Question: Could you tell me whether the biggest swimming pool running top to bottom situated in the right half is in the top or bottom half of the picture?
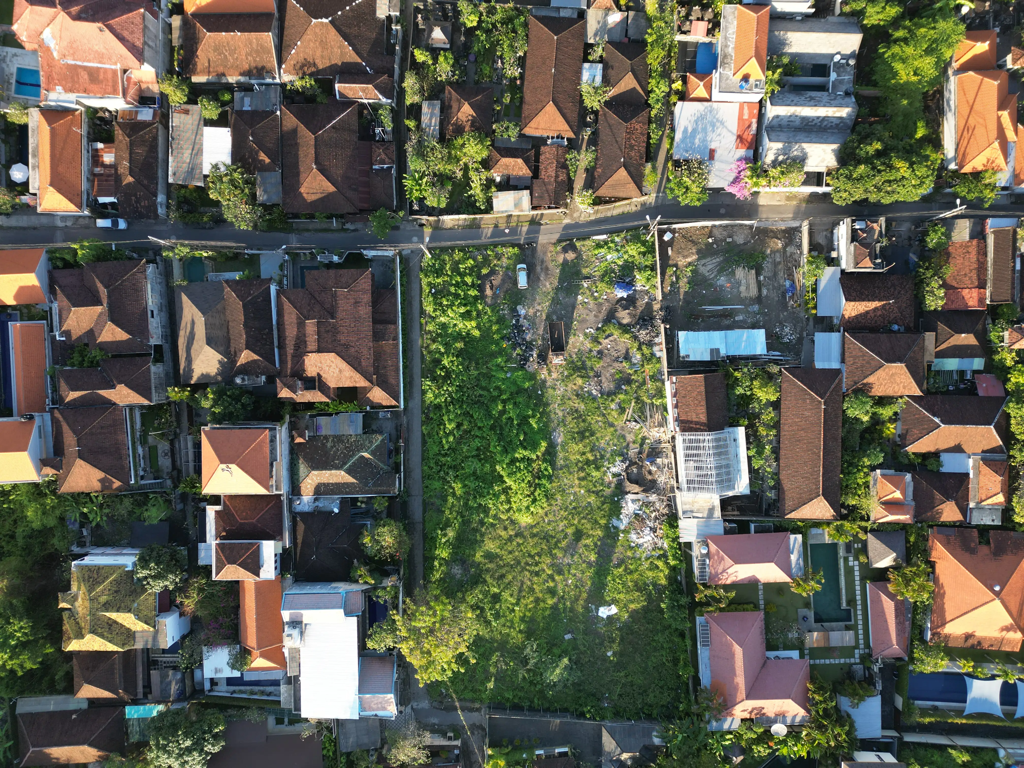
bottom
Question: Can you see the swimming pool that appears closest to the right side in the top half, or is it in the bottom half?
bottom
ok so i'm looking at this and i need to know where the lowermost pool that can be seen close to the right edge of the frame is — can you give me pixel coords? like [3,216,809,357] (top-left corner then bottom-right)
[907,671,1024,708]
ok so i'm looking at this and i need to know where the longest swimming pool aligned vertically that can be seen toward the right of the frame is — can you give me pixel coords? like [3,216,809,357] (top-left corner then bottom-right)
[808,541,854,625]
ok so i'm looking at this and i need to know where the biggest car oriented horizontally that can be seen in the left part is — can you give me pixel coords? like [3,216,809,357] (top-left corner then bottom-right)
[94,216,126,229]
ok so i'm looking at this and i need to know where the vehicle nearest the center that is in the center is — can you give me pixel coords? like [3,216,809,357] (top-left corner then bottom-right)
[551,316,567,362]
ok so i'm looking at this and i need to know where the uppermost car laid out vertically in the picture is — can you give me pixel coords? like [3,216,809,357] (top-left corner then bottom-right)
[516,262,528,288]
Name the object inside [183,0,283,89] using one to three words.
house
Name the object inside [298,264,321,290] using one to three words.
swimming pool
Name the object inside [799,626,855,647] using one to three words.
gazebo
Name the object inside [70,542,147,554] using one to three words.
shed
